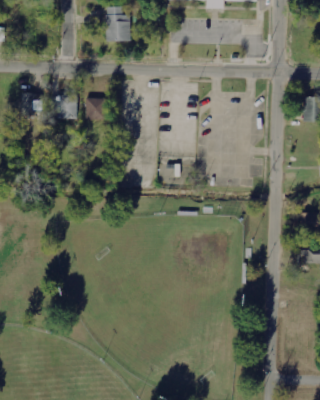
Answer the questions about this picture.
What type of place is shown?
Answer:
sports ground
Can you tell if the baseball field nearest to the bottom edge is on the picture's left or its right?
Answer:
left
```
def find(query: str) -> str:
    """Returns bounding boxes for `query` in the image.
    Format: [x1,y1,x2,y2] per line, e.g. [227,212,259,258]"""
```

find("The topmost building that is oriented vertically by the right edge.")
[304,96,316,122]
